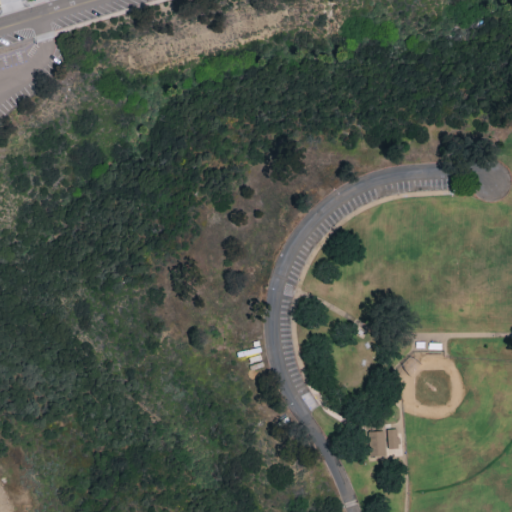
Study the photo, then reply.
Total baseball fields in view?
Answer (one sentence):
I count just 1 baseball field.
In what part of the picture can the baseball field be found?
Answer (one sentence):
The baseball field is in the bottom right part of the image.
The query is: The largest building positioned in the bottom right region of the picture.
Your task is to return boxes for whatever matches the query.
[370,431,386,458]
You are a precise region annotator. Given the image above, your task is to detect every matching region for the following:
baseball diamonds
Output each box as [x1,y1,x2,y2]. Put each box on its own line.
[400,352,465,419]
